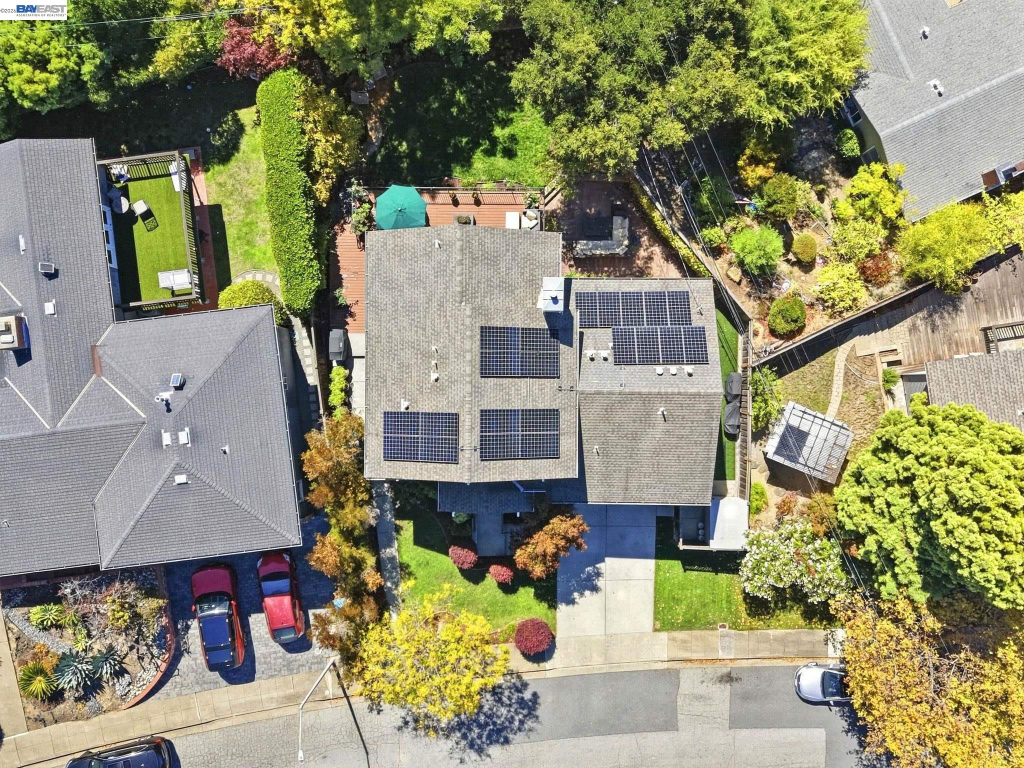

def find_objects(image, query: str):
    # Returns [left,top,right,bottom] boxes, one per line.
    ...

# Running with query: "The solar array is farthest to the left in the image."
[383,411,458,464]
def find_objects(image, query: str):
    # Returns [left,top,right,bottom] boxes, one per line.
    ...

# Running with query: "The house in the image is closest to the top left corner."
[0,137,313,579]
